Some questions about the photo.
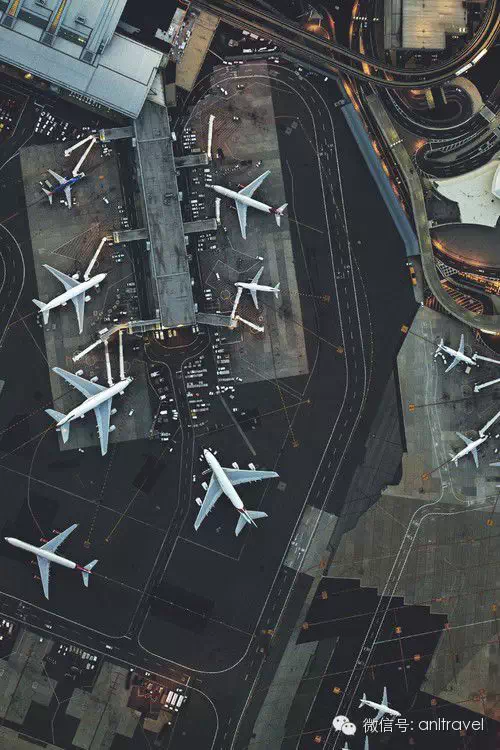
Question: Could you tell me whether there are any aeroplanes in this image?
Yes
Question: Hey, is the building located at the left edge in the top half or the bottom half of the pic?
top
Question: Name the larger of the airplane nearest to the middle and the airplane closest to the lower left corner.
the airplane closest to the lower left corner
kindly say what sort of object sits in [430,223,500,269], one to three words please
building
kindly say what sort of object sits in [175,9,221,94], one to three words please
building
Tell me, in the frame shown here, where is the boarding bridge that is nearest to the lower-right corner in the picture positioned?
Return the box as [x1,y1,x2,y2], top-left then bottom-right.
[477,412,500,436]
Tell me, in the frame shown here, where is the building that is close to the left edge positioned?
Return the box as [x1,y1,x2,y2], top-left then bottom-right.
[0,0,165,125]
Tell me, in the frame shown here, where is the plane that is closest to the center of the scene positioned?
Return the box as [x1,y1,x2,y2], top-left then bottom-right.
[235,266,280,309]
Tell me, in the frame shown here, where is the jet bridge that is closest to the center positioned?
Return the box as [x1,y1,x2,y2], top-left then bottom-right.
[235,315,266,334]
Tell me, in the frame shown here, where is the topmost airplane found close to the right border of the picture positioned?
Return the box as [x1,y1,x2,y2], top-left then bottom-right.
[436,335,476,371]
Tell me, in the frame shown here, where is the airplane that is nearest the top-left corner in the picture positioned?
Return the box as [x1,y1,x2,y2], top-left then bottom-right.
[42,170,82,209]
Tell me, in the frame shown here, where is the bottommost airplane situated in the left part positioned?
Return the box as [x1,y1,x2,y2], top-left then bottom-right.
[5,523,94,600]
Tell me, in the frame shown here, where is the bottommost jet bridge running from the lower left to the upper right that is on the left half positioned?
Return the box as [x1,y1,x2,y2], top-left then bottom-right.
[70,338,105,364]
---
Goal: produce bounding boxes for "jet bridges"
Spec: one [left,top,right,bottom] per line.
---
[471,353,500,363]
[234,284,243,324]
[474,378,500,394]
[477,412,500,436]
[73,137,100,178]
[104,341,113,387]
[214,196,222,224]
[119,331,126,379]
[235,315,266,334]
[70,338,105,364]
[208,113,215,160]
[63,134,97,158]
[83,235,109,279]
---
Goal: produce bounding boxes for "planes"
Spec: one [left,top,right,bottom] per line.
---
[212,170,287,238]
[35,264,107,333]
[48,369,133,456]
[5,523,94,600]
[235,266,280,309]
[42,170,82,209]
[448,433,488,467]
[359,689,400,724]
[195,450,280,532]
[436,335,476,371]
